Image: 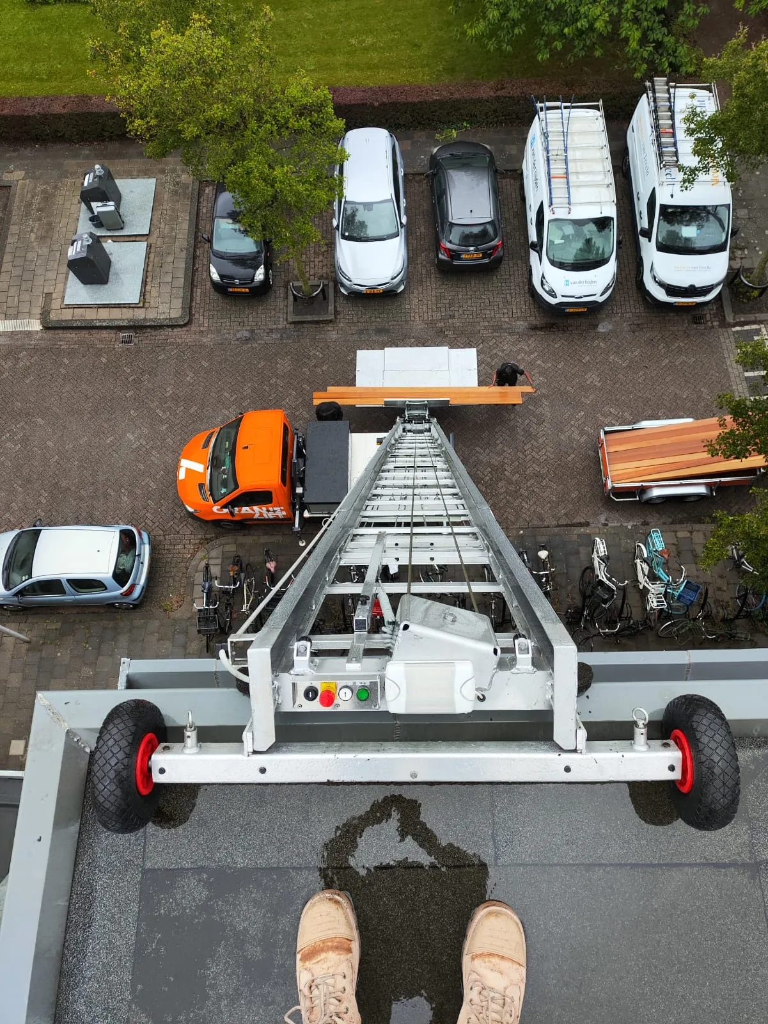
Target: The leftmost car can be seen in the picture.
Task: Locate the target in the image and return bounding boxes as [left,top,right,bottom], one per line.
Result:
[0,511,155,604]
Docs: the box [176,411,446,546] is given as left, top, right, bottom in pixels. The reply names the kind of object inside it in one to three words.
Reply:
truck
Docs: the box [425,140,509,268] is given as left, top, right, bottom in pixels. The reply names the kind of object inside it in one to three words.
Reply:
car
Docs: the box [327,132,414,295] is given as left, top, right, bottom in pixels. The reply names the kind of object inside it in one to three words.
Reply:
car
